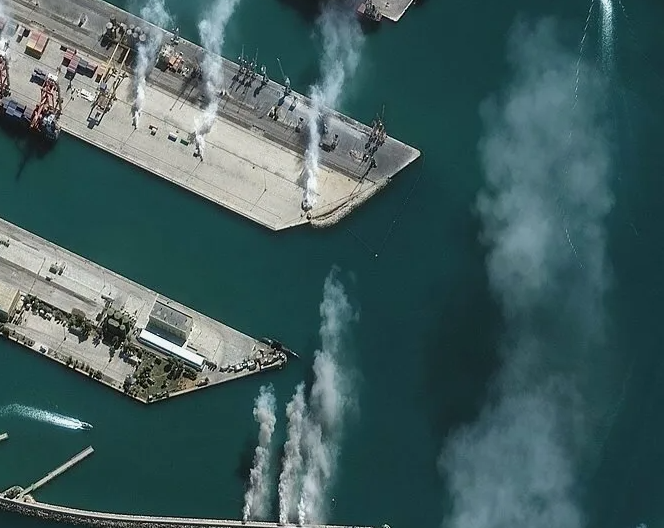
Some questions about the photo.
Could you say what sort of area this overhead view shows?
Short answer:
port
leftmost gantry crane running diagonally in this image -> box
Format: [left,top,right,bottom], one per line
[21,74,62,134]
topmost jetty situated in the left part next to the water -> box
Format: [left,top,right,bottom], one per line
[0,0,420,231]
